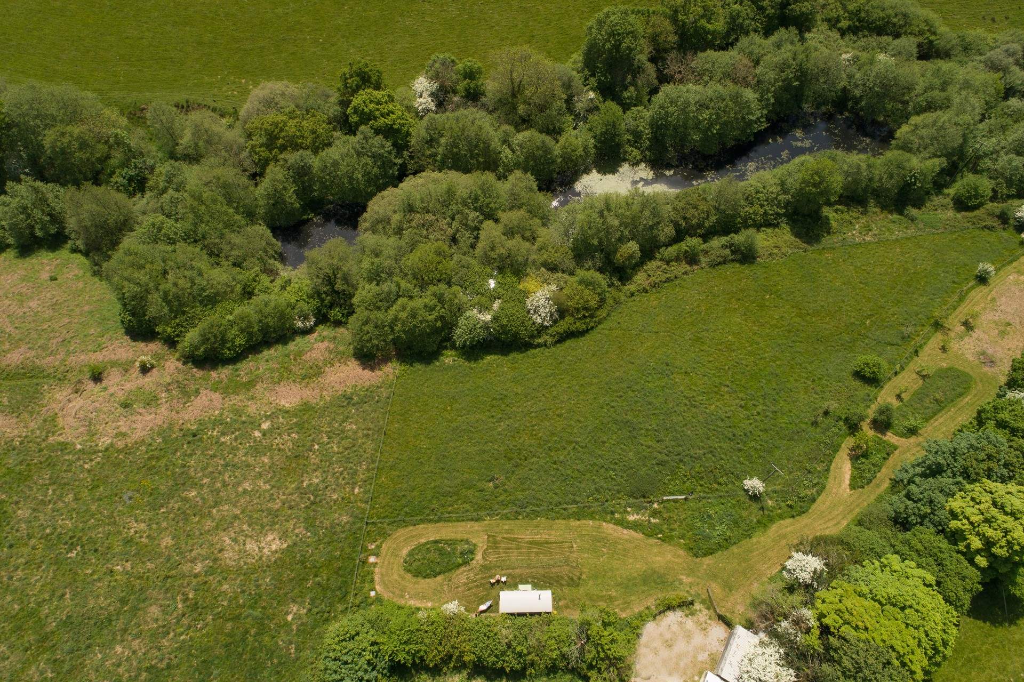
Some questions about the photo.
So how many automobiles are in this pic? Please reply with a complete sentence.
Not a single automobile can be seen.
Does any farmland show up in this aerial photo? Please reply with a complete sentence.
Yes, farmland shows up in the scene.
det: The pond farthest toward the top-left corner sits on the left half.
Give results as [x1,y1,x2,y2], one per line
[263,194,376,275]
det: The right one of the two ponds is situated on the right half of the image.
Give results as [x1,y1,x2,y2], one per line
[539,104,896,221]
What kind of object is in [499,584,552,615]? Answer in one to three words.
shed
